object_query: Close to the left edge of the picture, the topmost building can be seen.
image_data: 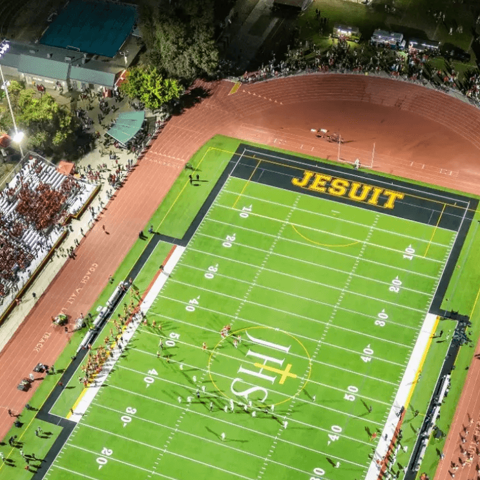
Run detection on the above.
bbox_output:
[0,42,129,97]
